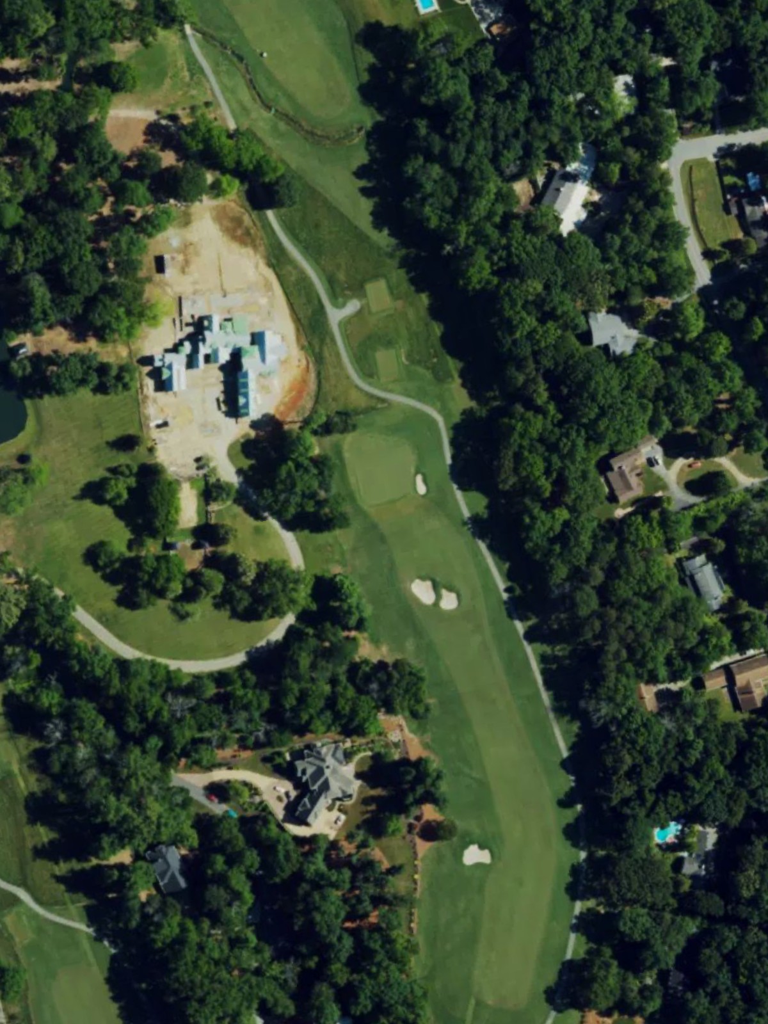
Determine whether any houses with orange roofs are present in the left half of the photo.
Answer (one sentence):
No, I can find no house with an orange roof in the left half of the photo.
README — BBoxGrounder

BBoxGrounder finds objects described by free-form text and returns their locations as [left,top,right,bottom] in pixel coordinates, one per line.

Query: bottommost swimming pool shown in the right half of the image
[655,821,681,844]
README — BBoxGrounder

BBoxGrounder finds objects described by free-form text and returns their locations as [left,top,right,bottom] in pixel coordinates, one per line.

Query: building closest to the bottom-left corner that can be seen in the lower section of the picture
[143,842,187,894]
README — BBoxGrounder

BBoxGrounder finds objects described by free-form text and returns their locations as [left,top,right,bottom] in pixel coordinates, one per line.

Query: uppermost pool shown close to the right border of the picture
[746,171,761,192]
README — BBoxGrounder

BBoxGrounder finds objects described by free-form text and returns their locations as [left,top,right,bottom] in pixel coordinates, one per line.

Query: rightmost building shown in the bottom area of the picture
[727,653,768,715]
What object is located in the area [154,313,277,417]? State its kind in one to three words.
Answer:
house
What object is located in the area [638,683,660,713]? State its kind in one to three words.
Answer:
house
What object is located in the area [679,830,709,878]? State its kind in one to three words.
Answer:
building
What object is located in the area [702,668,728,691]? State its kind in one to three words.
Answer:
building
